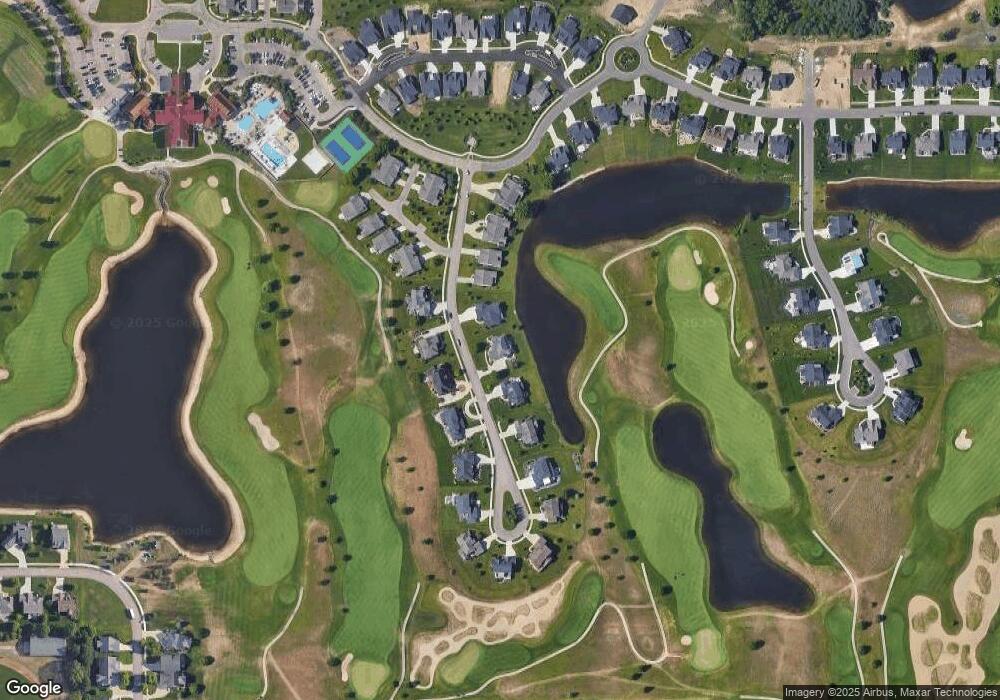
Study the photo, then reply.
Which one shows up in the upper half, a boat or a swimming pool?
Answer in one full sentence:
There is a swimming pool in the upper half.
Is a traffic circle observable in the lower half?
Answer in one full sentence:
No, I see no traffic circle in the lower half.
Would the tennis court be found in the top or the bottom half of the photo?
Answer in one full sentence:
You can find the tennis court in the top half.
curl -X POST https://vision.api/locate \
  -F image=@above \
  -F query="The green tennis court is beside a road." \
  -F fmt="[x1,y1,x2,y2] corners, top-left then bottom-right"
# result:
[320,118,374,172]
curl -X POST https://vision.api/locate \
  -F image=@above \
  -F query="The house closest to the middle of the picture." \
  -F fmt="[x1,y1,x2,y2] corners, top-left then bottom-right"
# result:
[484,333,515,361]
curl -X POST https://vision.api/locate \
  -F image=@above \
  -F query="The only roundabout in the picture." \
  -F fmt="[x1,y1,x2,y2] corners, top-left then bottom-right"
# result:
[604,36,650,82]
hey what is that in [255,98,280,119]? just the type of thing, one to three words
swimming pool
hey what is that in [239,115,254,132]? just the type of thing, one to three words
swimming pool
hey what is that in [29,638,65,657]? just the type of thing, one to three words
shed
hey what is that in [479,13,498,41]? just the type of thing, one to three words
house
